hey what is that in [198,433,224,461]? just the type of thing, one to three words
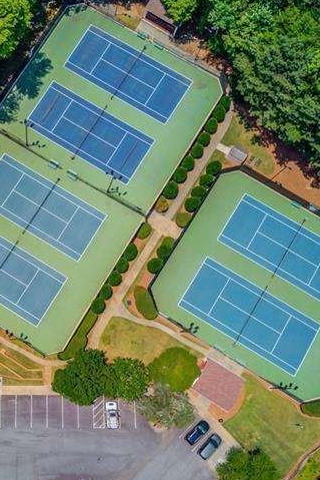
car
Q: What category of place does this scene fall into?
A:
sports ground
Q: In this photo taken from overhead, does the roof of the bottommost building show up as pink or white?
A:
pink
